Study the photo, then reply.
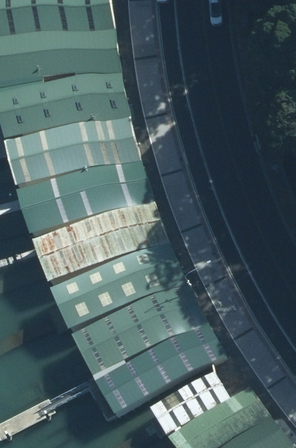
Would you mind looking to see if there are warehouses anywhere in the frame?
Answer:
No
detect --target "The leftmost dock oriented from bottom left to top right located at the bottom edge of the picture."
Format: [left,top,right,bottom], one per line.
[0,400,59,444]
